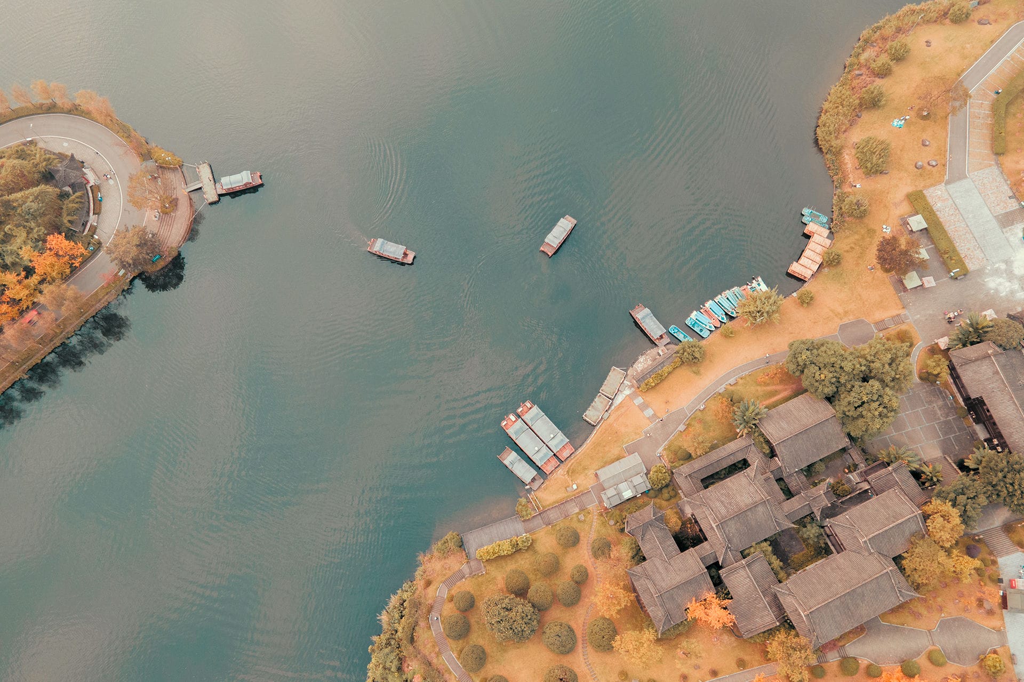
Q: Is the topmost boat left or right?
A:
left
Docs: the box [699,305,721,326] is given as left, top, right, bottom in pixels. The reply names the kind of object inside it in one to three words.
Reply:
boat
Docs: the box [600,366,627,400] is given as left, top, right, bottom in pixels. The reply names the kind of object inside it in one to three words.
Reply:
pier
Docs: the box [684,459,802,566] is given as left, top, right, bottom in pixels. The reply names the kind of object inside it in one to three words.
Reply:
building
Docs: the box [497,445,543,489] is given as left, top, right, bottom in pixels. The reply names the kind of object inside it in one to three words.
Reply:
boat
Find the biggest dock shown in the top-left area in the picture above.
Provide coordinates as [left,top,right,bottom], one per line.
[195,160,219,205]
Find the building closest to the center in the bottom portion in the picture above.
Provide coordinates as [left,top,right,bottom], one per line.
[595,453,651,508]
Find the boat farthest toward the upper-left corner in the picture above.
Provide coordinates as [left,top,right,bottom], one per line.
[215,168,262,192]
